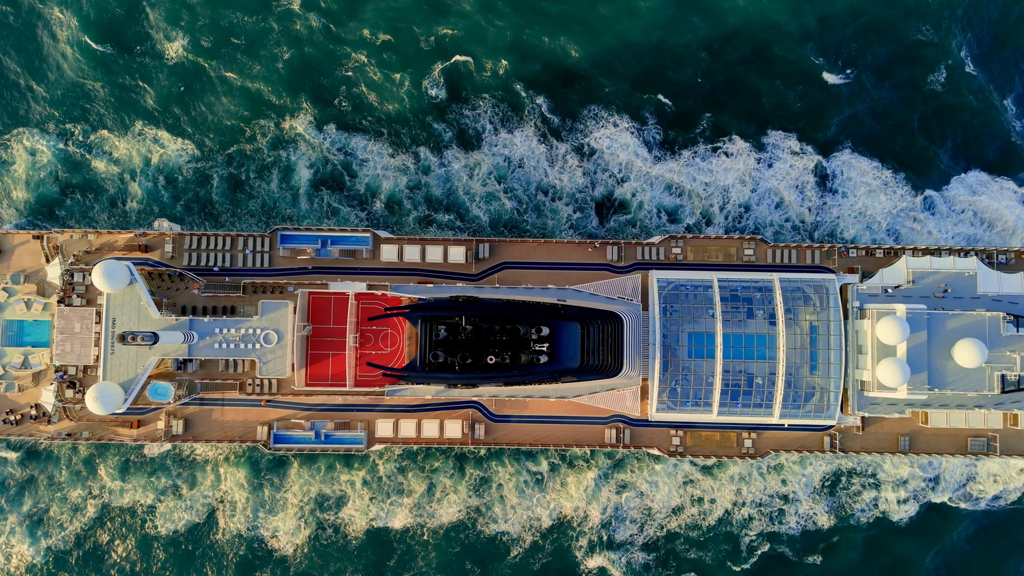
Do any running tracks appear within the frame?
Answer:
Yes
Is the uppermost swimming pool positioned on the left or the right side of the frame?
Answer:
left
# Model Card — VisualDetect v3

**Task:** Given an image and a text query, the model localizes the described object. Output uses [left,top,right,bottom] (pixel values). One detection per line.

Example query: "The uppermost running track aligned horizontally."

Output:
[92,257,840,282]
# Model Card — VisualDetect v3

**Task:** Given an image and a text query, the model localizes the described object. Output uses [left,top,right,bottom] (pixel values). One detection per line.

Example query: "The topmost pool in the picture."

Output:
[277,231,373,259]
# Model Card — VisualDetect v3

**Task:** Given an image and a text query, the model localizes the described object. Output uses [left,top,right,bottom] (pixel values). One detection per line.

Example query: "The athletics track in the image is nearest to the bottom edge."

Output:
[109,397,838,433]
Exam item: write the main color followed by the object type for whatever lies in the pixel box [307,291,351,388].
red sports court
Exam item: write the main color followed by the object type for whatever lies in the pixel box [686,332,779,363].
blue swimming pool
